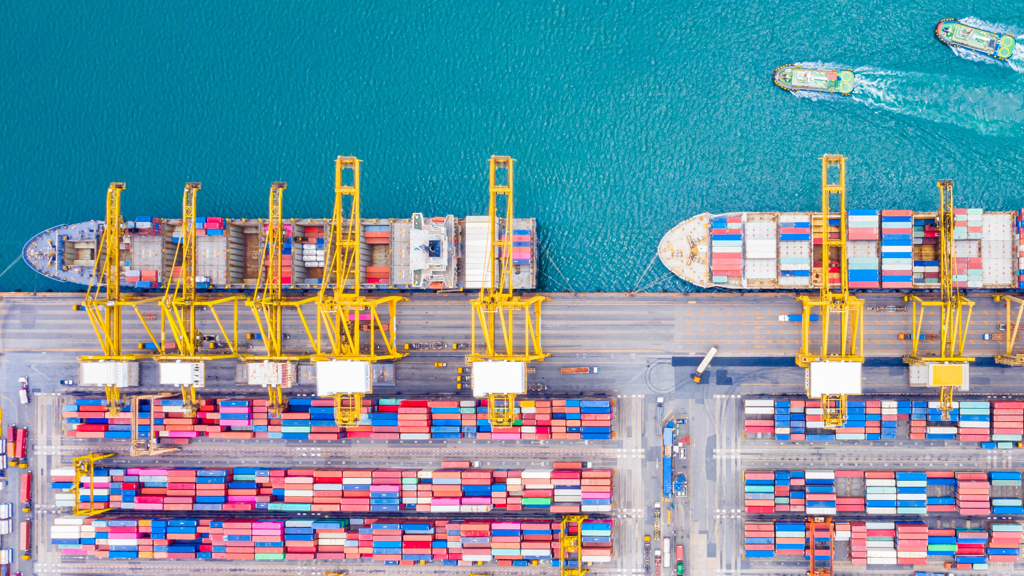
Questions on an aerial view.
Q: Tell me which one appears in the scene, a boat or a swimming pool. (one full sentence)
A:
Visible in the photo is a boat.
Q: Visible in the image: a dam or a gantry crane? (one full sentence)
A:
This aerial view contains a gantry crane.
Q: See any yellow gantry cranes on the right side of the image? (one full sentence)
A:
Yes, a yellow gantry crane shows up on the right side of the image.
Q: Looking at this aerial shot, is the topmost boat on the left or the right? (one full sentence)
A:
The topmost boat is on the right side of the image.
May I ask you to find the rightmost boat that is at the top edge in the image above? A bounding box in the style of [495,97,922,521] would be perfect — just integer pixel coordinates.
[934,17,1017,61]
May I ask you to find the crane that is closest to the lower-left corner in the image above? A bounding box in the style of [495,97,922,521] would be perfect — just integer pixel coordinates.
[72,449,127,513]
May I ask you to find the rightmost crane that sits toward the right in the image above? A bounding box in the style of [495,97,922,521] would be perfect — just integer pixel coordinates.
[986,296,1024,361]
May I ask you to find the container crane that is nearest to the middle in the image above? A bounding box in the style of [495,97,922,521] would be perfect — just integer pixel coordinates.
[469,155,560,429]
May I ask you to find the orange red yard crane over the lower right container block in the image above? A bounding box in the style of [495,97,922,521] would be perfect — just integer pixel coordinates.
[800,512,836,576]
